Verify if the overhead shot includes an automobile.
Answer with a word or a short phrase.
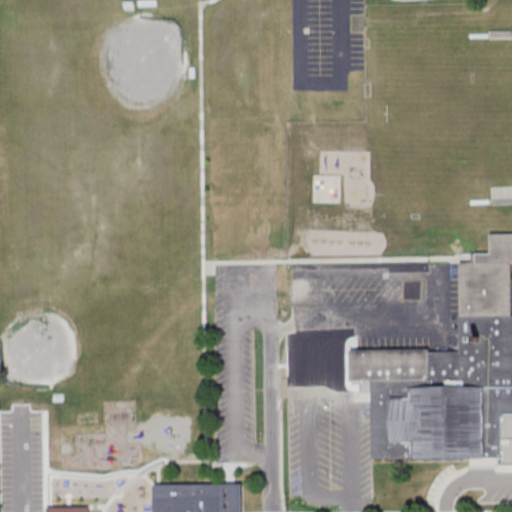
No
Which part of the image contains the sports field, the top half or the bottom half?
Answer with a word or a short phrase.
top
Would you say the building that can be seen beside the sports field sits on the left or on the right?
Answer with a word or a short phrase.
right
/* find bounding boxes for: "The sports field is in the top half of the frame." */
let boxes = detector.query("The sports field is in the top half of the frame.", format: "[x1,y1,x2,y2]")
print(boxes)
[374,48,512,180]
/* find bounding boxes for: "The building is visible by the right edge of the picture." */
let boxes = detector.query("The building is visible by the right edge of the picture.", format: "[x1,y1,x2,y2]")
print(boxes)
[349,234,512,466]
